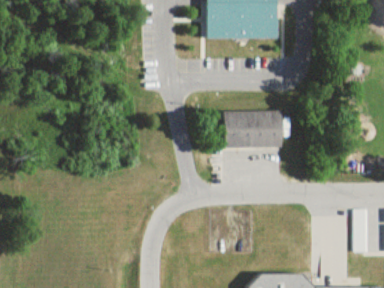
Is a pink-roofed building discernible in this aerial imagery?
No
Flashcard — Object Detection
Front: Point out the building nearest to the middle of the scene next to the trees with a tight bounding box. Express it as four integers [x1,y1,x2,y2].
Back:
[224,111,282,148]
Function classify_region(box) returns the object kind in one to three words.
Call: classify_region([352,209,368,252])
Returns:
shed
